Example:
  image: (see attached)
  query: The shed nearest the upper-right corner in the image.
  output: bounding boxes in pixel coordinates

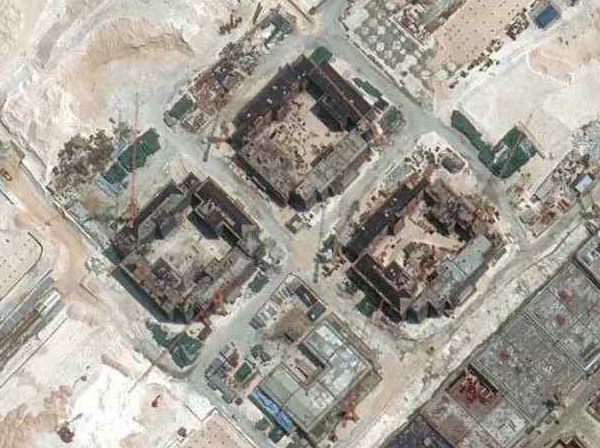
[534,5,560,28]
